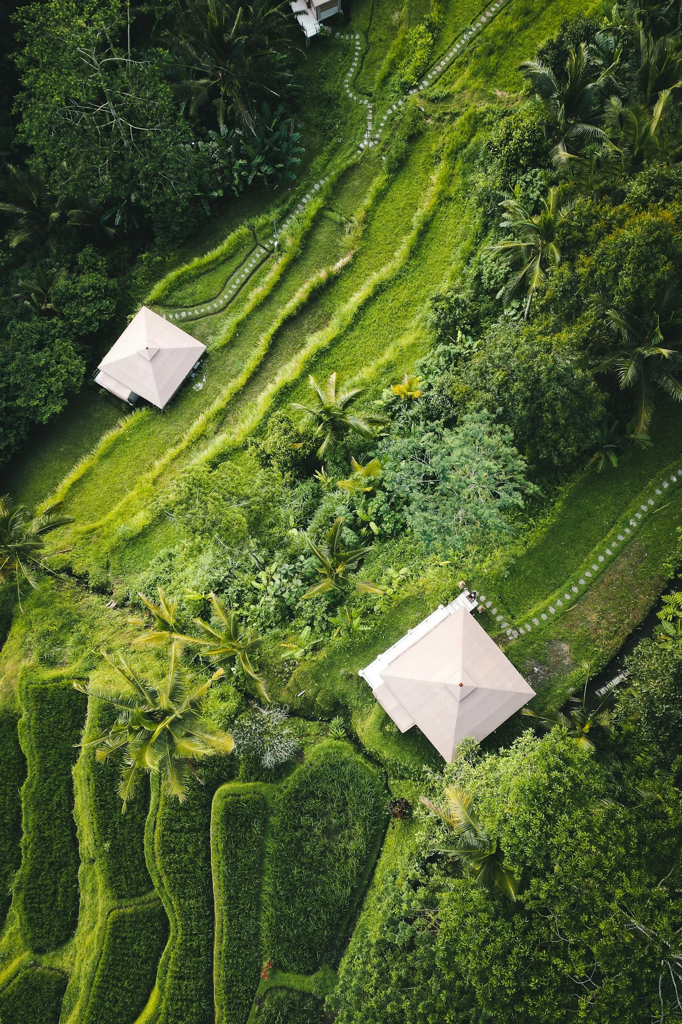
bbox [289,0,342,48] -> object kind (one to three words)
building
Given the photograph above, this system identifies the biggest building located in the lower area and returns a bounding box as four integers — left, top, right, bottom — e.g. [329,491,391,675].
[363,585,535,765]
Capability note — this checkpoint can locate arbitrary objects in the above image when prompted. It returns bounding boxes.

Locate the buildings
[92,309,208,411]
[363,585,535,765]
[289,0,342,48]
